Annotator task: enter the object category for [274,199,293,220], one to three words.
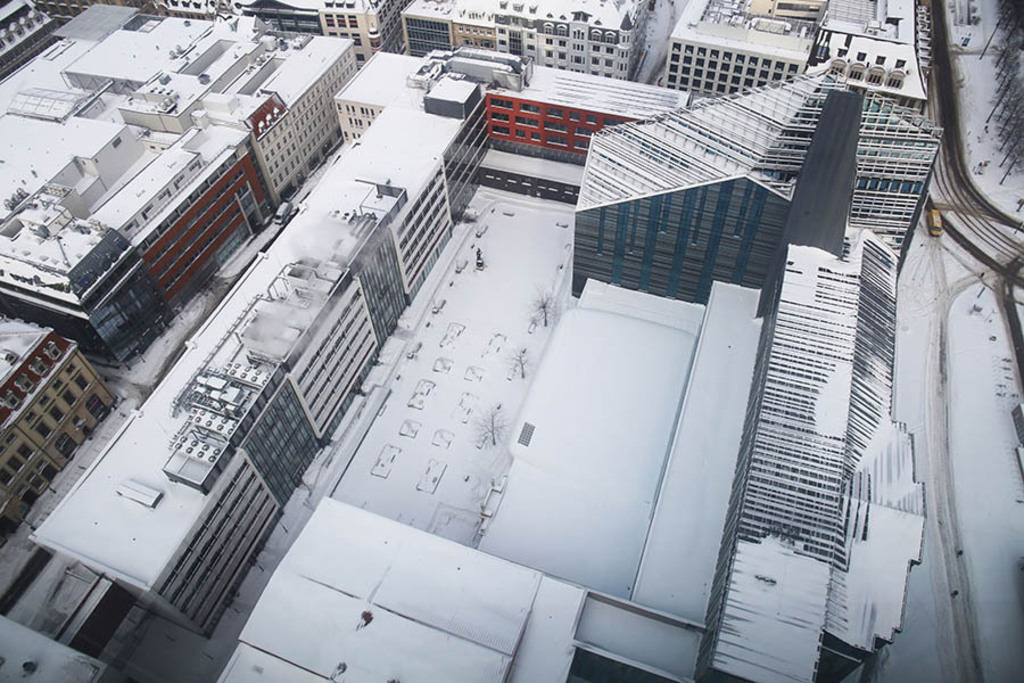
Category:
vehicle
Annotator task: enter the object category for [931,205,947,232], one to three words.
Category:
vehicle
